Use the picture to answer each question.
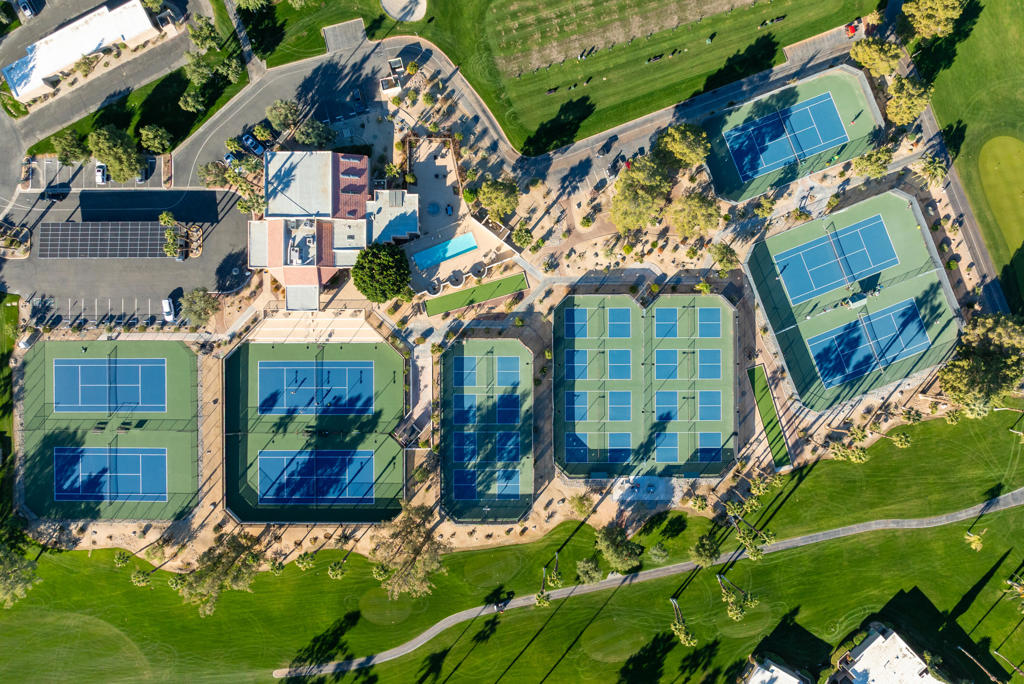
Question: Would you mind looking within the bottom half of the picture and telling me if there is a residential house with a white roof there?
Yes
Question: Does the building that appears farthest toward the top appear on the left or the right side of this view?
left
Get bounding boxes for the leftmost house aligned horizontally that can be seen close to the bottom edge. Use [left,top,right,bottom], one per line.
[739,653,807,684]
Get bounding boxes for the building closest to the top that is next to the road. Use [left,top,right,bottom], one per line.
[1,0,167,104]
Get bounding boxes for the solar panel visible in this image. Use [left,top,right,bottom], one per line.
[41,223,178,257]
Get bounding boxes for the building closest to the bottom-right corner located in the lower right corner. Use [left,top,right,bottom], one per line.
[838,625,946,684]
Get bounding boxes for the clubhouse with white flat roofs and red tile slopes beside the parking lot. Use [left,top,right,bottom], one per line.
[247,150,421,311]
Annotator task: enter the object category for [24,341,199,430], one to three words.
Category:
tennis court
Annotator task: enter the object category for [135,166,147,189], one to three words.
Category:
vehicle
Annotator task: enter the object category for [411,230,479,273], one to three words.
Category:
swimming pool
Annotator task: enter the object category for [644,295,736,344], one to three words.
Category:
sports court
